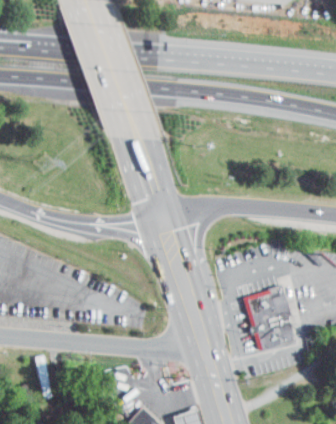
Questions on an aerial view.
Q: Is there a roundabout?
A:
No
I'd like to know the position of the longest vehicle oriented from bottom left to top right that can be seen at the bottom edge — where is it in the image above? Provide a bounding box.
[121,388,142,404]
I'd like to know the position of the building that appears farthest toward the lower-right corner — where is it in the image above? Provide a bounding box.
[243,286,296,350]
